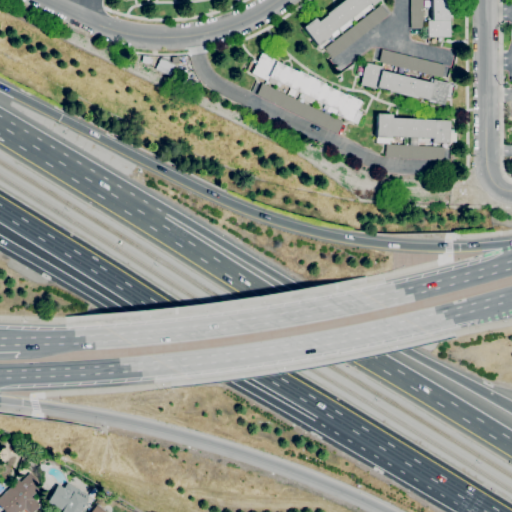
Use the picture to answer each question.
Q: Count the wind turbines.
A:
0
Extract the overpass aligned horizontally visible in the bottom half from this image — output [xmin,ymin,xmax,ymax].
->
[0,276,512,388]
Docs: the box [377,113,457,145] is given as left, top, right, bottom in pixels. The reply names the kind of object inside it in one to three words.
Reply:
building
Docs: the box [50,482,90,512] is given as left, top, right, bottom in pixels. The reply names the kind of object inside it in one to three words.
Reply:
house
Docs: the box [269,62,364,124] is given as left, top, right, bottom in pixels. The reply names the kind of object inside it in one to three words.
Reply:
building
